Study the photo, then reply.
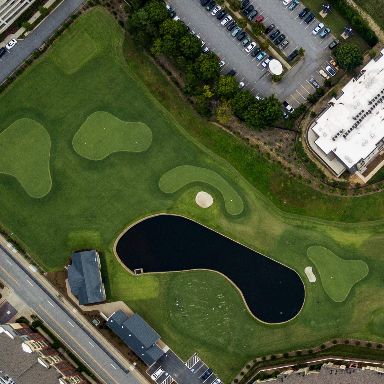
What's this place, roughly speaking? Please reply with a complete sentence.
This looks like a golf course.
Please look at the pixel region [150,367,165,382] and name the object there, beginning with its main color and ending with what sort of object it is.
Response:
white vehicle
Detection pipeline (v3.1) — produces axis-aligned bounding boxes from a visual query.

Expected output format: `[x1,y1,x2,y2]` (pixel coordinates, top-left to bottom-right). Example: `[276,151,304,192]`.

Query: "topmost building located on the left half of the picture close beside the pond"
[67,249,106,305]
